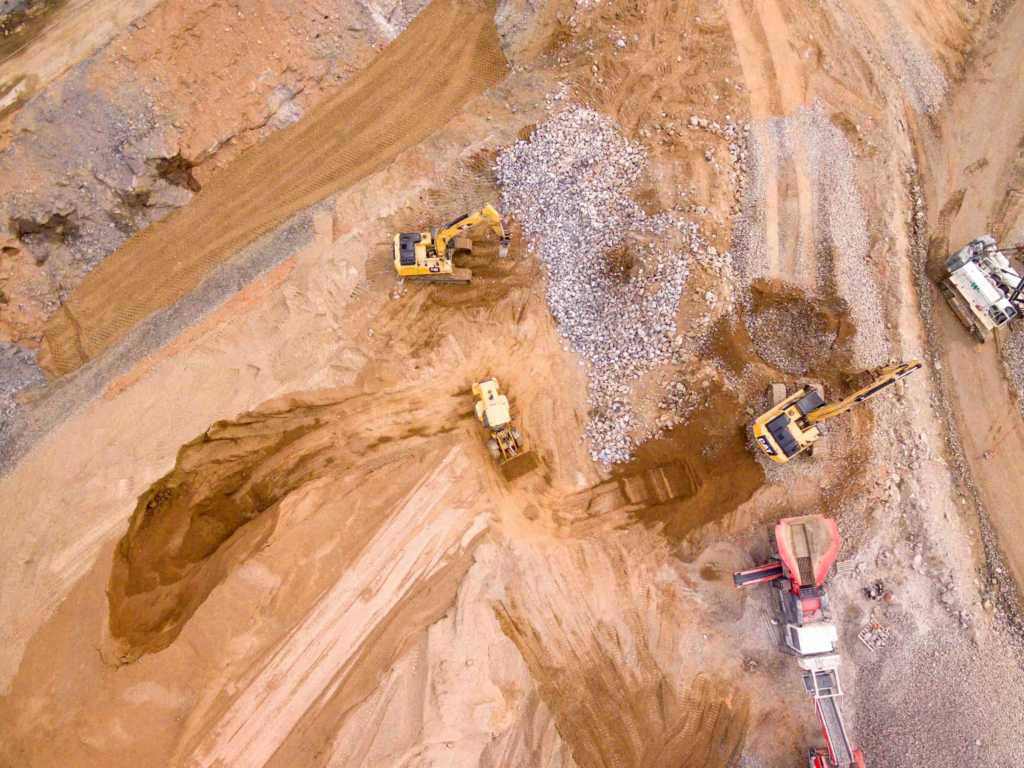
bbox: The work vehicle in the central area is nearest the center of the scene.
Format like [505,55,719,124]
[472,378,538,483]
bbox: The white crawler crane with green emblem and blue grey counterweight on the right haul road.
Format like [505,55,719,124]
[933,235,1024,344]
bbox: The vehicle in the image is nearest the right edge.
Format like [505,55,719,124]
[749,358,922,464]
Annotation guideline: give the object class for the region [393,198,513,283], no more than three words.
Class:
work vehicle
